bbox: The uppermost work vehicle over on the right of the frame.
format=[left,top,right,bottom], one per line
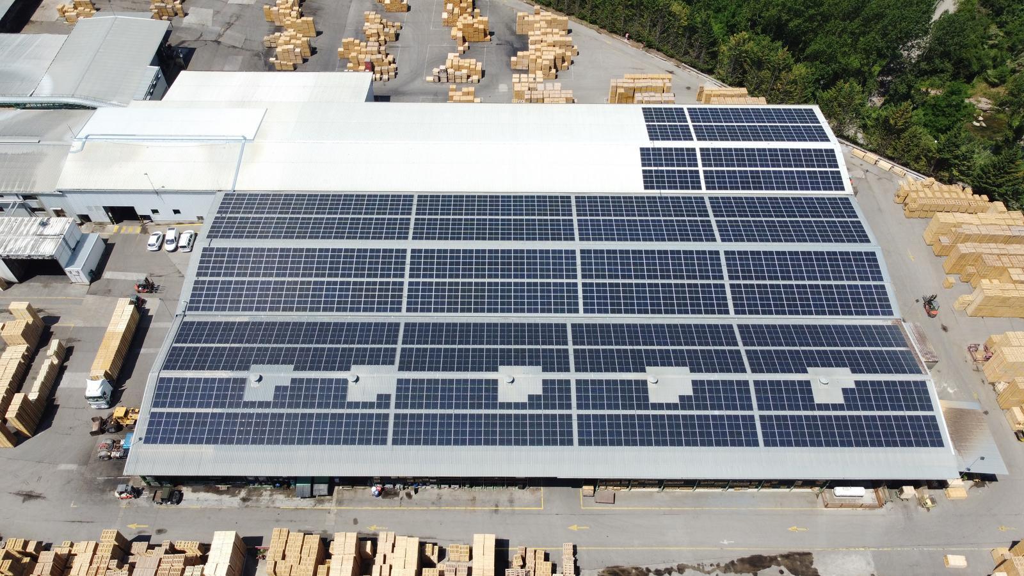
[923,292,947,318]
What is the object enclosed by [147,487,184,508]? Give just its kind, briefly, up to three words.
truck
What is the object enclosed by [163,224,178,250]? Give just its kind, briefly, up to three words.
vehicle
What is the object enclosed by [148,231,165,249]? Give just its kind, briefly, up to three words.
car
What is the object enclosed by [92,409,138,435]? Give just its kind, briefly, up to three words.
work vehicle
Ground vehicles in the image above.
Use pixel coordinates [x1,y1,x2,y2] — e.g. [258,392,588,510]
[163,224,178,250]
[147,487,184,508]
[92,409,138,435]
[148,231,165,249]
[136,290,152,307]
[109,482,145,500]
[923,292,947,318]
[178,230,195,250]
[94,432,135,459]
[78,299,142,407]
[131,275,160,293]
